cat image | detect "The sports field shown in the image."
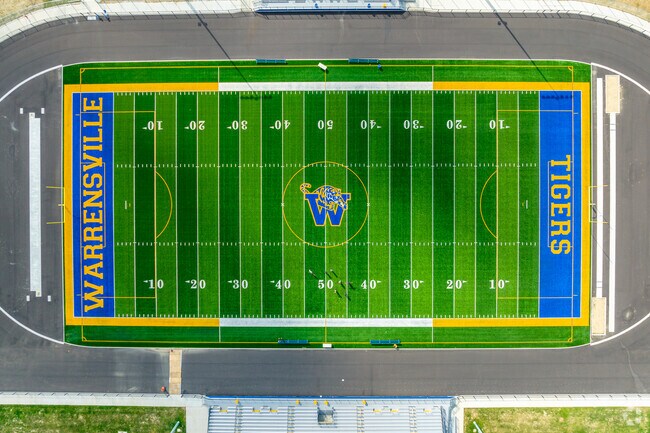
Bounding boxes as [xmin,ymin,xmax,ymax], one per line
[63,60,590,349]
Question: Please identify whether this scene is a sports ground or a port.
sports ground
